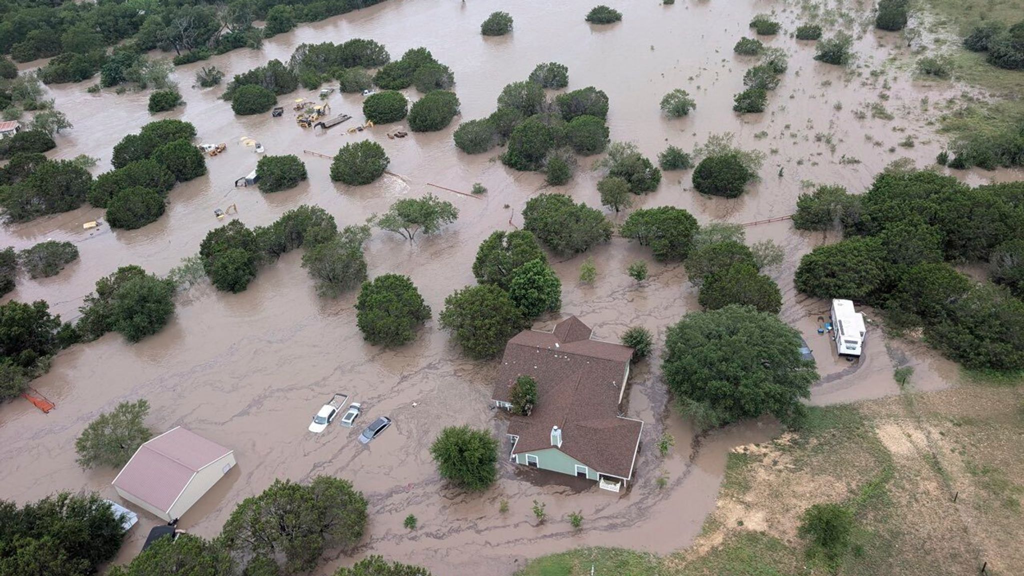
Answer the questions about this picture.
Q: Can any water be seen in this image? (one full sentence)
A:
Yes, water can be seen from above here.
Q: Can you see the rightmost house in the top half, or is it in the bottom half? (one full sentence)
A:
It is in the bottom half that the rightmost house appears.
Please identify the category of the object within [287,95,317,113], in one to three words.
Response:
work vehicle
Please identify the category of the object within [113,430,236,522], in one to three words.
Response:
barn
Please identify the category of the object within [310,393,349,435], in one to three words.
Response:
truck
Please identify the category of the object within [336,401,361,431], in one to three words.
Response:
car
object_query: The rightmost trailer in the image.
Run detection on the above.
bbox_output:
[830,299,867,363]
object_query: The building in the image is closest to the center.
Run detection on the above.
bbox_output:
[490,314,645,492]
